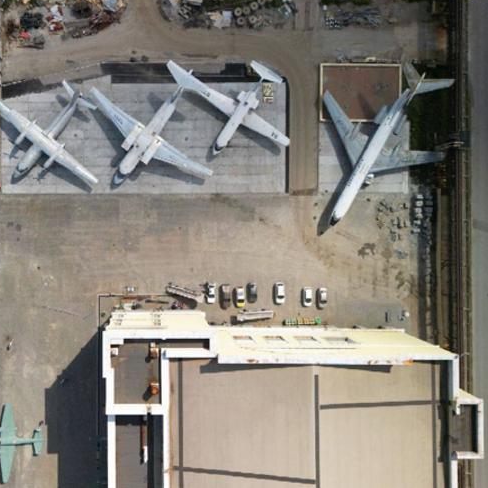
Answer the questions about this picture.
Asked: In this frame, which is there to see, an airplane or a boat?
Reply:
airplane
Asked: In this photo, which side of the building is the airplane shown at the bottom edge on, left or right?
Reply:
on its left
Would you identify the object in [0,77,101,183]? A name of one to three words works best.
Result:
airplane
